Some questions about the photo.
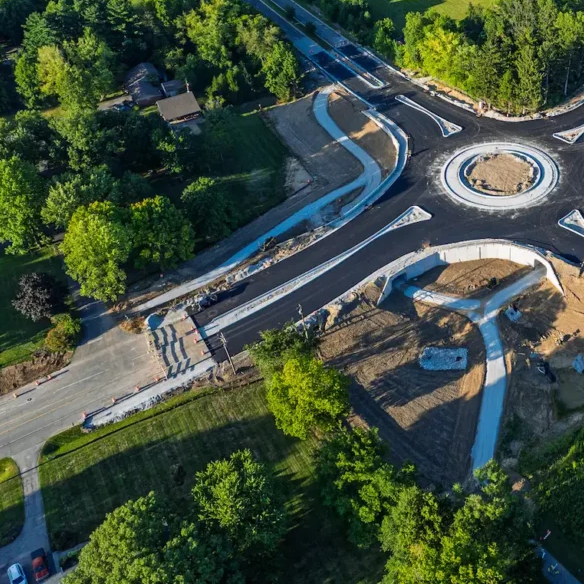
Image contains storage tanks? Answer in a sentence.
No, no storage tank is visible in the scene.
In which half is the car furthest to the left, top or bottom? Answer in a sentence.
The car furthest to the left is in the bottom half of the image.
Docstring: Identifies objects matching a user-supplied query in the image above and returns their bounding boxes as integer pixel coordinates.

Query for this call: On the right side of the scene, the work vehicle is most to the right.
[533,357,557,381]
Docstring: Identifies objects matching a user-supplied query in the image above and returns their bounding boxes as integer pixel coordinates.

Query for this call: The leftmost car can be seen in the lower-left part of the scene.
[3,554,26,584]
